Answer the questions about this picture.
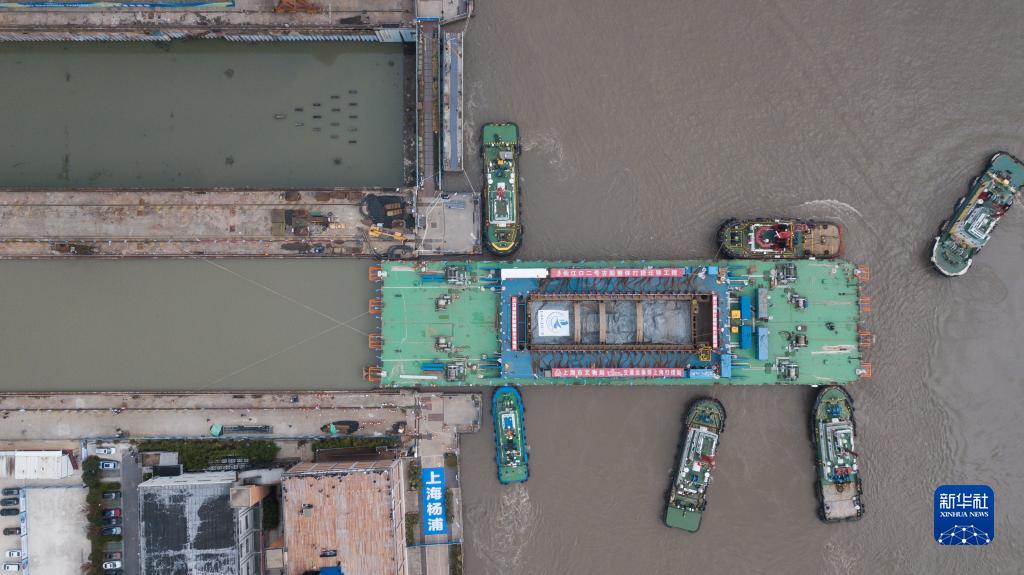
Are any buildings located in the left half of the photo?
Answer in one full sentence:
Yes, looking in the left half of the photo, one can make out a building.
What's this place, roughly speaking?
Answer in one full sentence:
The area seen from above is a port.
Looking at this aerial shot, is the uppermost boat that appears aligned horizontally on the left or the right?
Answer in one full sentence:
The uppermost boat that appears aligned horizontally is on the right side of the image.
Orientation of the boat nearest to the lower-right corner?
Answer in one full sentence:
The boat nearest to the lower-right corner is laid out from top to bottom.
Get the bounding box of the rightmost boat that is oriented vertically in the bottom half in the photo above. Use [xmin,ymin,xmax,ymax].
[812,386,866,521]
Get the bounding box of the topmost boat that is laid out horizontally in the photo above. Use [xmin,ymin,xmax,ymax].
[719,216,843,261]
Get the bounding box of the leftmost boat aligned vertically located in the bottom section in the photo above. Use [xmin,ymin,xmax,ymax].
[491,386,529,484]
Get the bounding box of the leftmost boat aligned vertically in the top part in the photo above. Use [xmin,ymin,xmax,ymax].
[479,123,523,256]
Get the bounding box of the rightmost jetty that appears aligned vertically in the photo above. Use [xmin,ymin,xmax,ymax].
[443,32,463,171]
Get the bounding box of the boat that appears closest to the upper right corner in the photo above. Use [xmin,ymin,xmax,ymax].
[930,147,1024,280]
